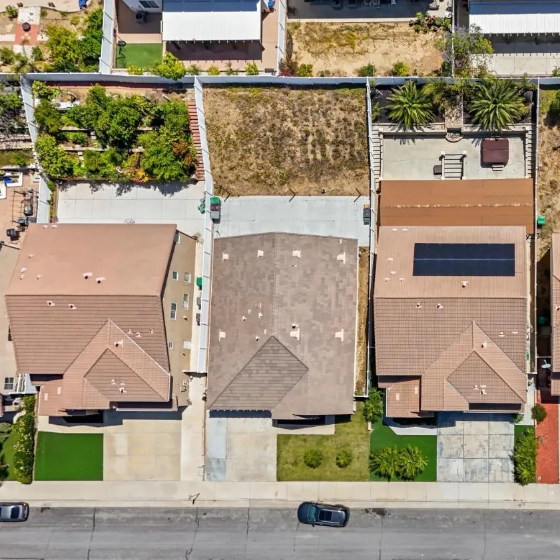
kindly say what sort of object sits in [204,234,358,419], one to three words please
house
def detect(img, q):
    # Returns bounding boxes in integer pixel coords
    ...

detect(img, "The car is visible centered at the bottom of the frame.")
[297,501,351,528]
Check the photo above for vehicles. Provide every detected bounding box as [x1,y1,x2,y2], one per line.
[0,500,34,521]
[297,501,351,528]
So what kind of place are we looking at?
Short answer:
residential area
